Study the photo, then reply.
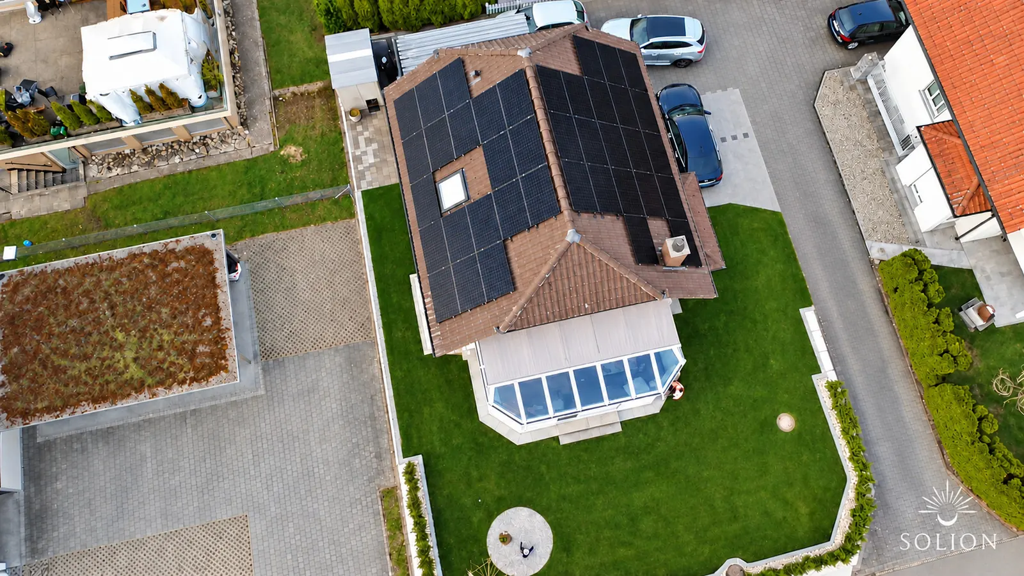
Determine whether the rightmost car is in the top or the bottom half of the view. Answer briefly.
top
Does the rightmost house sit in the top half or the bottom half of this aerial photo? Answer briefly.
top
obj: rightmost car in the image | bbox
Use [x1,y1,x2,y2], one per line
[824,0,908,54]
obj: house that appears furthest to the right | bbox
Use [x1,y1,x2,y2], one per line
[869,0,1024,304]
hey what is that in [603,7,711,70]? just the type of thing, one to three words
car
